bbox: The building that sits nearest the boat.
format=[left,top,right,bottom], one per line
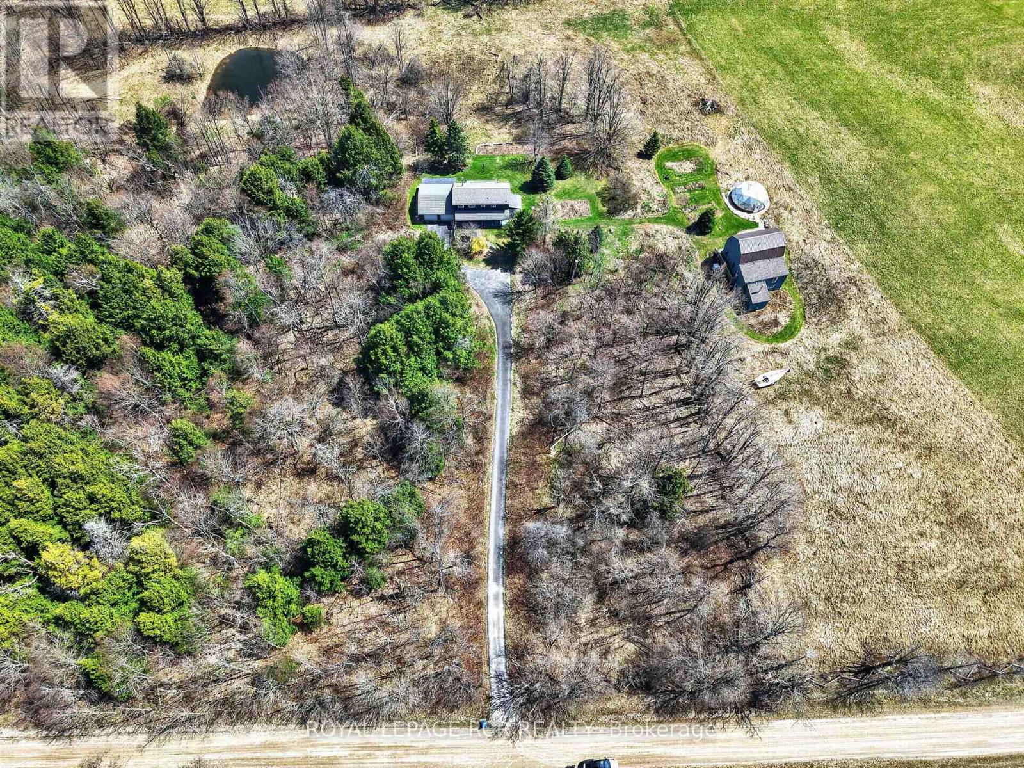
[721,224,792,312]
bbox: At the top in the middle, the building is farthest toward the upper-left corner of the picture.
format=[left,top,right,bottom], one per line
[417,177,520,231]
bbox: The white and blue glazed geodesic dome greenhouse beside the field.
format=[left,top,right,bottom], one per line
[730,179,770,215]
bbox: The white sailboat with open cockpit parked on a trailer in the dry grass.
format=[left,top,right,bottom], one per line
[755,368,790,387]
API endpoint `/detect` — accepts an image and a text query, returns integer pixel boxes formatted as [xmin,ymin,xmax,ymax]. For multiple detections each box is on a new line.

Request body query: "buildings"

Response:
[721,224,792,312]
[417,177,520,231]
[730,179,770,215]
